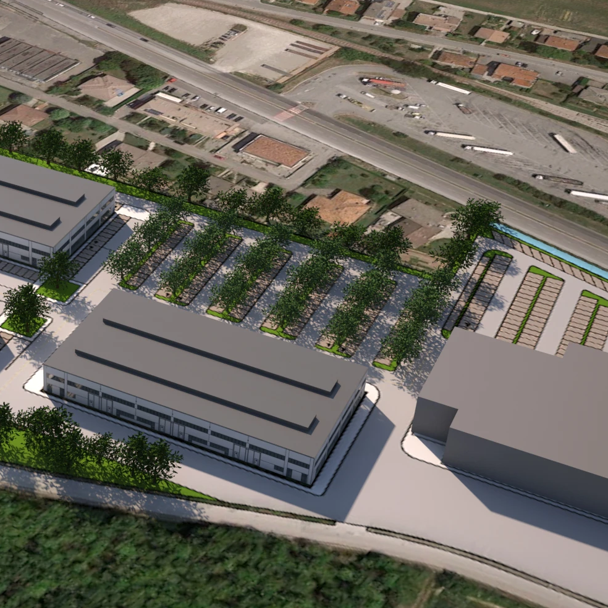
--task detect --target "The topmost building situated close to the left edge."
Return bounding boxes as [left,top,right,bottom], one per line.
[0,38,82,87]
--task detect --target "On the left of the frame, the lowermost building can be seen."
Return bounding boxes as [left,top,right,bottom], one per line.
[42,288,368,485]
